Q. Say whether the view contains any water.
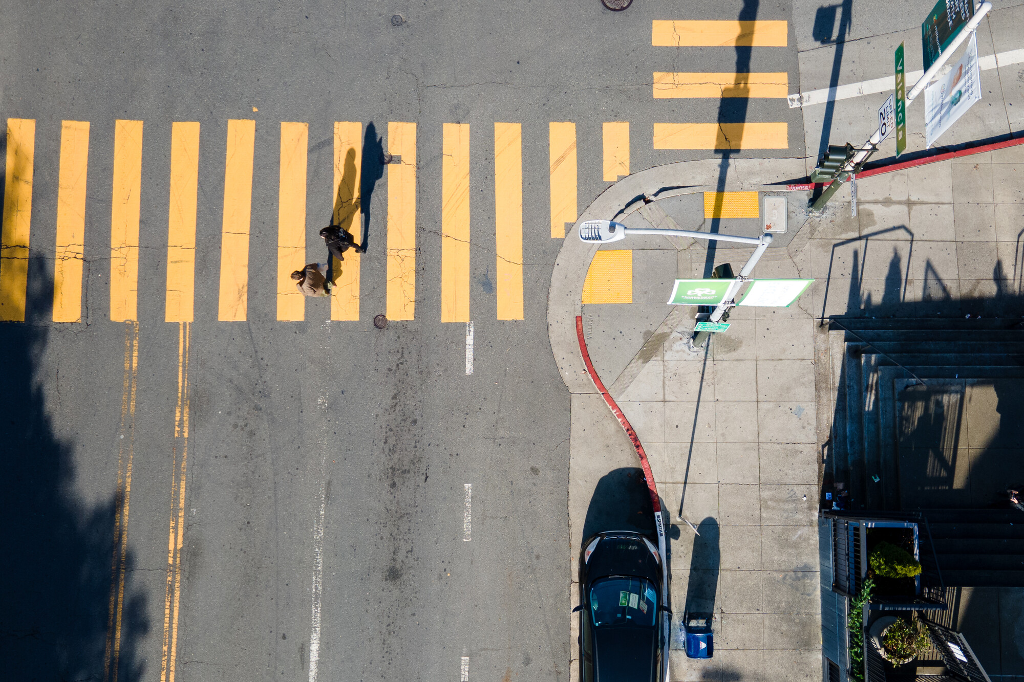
No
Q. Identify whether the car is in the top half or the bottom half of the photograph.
bottom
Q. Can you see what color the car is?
black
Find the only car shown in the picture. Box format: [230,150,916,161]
[570,530,674,682]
